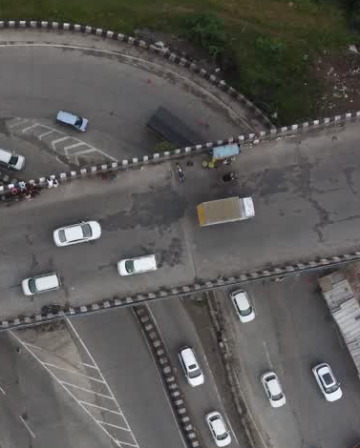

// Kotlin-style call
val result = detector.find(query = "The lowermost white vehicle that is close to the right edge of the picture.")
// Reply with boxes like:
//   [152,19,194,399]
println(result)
[309,360,342,402]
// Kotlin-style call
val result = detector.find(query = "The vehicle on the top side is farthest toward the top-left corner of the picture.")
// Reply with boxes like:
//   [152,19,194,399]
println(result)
[54,110,88,133]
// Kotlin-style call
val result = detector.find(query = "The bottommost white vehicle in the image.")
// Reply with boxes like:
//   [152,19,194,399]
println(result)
[204,409,230,447]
